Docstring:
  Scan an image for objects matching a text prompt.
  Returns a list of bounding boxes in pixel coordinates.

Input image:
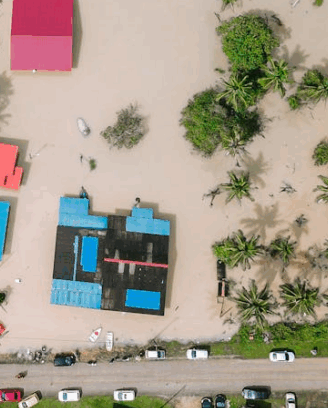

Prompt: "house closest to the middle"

[51,197,170,315]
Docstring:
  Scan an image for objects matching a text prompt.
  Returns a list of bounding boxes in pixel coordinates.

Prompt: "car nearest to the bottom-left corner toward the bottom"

[0,388,22,402]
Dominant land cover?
water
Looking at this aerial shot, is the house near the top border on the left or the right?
left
